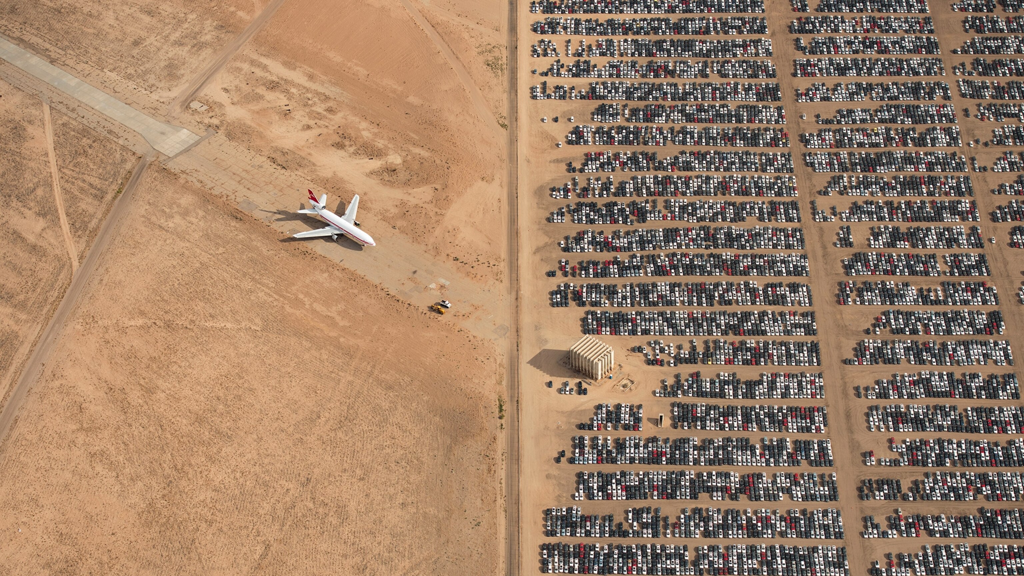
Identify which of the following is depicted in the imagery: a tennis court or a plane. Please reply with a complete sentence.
The one in the frame is a plane.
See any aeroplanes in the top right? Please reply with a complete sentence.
No, in the top right there is no aeroplane.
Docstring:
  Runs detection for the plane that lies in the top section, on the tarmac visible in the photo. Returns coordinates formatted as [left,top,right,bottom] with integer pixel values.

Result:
[295,189,376,247]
